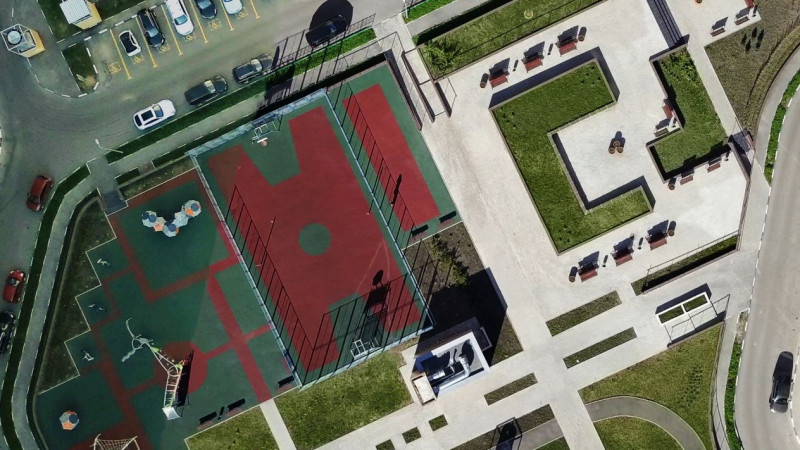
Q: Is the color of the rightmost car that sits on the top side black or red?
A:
black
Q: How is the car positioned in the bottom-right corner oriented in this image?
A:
vertically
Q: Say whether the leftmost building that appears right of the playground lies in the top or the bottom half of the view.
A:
bottom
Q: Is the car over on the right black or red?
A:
black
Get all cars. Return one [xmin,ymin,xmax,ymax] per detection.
[0,311,16,355]
[181,75,228,105]
[220,0,241,13]
[0,267,25,305]
[133,3,165,48]
[770,366,795,412]
[116,27,141,56]
[162,0,193,35]
[303,14,348,44]
[23,173,50,212]
[194,0,216,19]
[129,99,175,129]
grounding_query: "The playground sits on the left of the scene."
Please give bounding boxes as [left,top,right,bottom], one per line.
[37,167,302,450]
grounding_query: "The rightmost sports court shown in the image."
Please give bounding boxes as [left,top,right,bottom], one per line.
[326,56,462,252]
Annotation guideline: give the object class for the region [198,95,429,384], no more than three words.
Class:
sports court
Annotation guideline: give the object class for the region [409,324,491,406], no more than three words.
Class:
building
